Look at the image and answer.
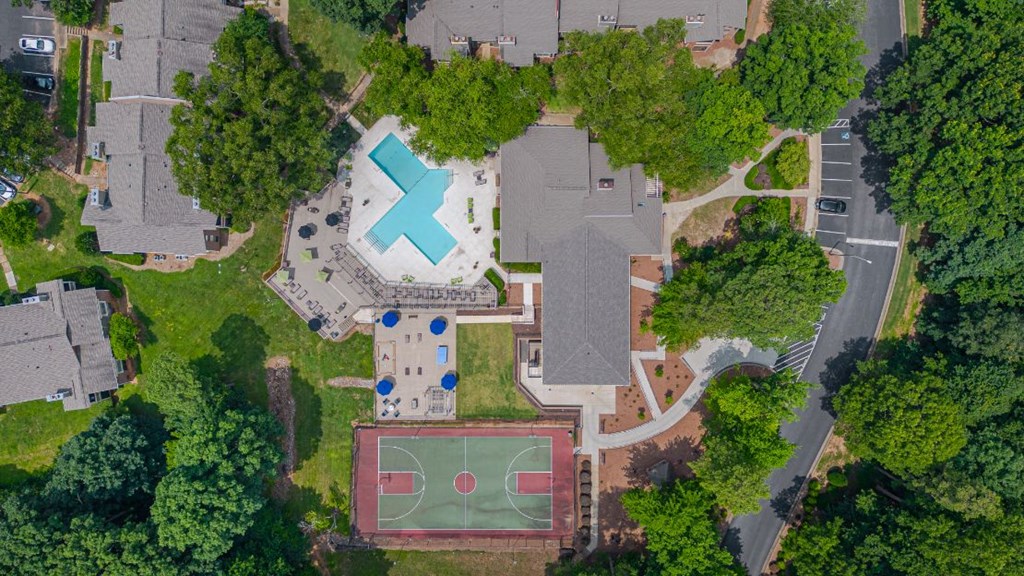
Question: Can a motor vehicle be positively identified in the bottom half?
No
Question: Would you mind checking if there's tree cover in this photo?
Yes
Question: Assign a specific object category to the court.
basketball court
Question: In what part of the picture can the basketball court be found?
bottom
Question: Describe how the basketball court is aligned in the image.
horizontally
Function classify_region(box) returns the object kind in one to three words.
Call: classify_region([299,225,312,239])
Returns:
umbrella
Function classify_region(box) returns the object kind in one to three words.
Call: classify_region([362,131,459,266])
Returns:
swimming pool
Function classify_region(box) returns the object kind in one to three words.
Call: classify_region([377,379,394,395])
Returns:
umbrella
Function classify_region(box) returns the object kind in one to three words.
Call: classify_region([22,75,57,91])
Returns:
car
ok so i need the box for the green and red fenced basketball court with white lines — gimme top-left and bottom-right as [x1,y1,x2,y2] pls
[357,426,575,538]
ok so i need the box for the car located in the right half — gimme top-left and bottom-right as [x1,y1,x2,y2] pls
[814,197,846,212]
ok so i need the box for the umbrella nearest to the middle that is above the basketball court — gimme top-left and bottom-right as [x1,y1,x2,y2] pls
[430,318,446,334]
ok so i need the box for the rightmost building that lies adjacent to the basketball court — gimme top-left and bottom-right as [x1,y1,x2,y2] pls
[501,126,663,386]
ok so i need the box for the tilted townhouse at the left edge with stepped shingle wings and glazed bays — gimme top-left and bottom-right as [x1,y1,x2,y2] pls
[0,279,132,411]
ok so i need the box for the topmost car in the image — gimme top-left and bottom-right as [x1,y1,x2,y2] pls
[20,37,57,54]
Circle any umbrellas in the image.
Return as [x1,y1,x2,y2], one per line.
[381,310,399,327]
[299,225,312,239]
[377,379,394,395]
[308,318,322,331]
[315,269,328,282]
[278,270,290,281]
[300,250,312,262]
[441,373,458,390]
[430,318,446,334]
[326,212,340,226]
